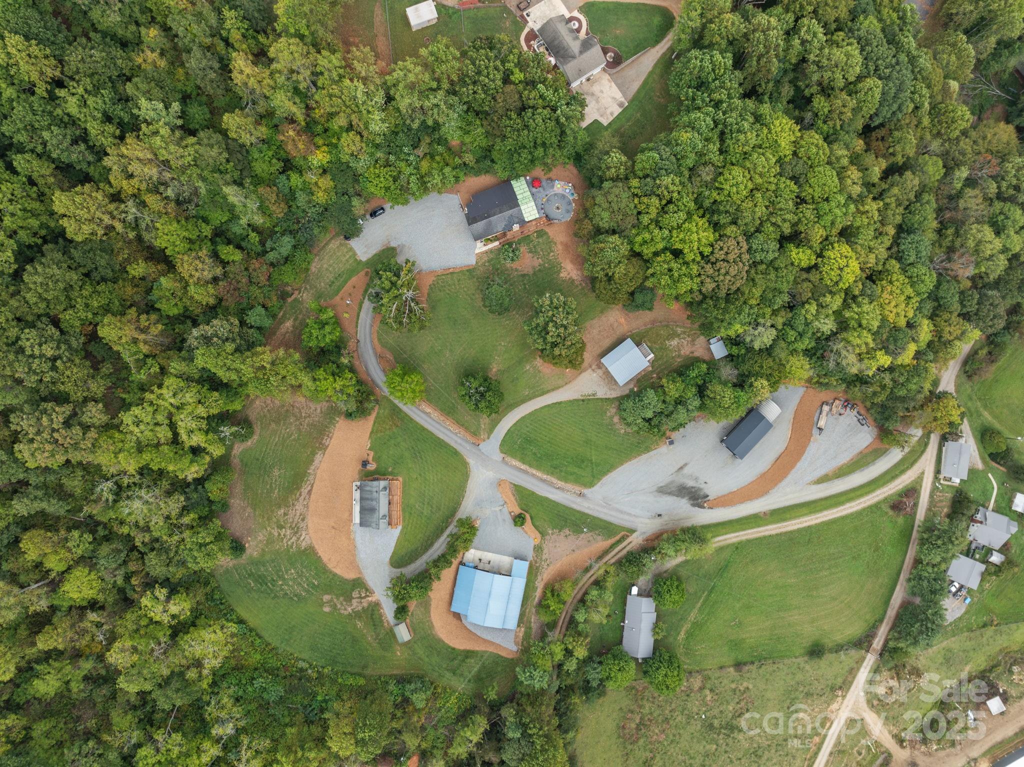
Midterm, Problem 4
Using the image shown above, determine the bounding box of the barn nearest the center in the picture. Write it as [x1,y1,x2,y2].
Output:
[601,338,649,386]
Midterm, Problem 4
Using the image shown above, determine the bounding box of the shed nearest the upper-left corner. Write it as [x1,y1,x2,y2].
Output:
[406,0,438,29]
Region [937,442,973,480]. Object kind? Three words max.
house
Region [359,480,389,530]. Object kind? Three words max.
house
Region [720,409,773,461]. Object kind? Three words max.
building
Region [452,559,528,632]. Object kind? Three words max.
building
